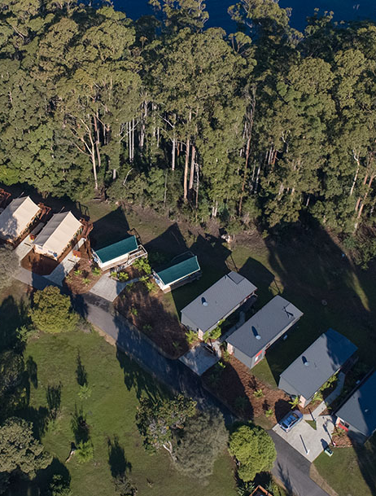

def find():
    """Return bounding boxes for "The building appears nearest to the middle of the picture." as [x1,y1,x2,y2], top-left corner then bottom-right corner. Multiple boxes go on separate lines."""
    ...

[151,255,211,300]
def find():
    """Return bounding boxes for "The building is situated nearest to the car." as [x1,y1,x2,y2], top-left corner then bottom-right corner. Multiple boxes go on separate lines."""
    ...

[279,328,358,410]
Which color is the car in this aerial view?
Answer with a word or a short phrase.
blue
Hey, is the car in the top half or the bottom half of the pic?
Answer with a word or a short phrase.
bottom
